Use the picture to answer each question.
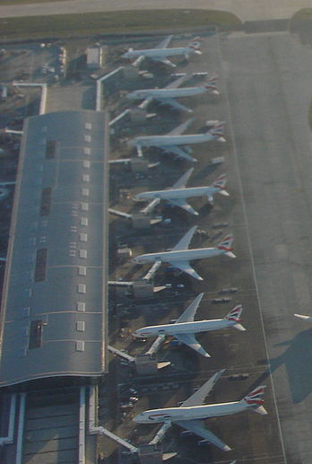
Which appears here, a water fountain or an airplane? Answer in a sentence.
Looking from above, you can make out an airplane.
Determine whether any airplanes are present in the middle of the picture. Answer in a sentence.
Yes, I can see an airplane in the middle of the picture.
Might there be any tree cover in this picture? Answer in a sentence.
No, the scene doesn't show any tree cover.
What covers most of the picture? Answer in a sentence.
The scene is dominated by paved ground.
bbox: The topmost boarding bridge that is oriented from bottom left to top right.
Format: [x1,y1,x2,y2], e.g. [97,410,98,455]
[97,54,154,109]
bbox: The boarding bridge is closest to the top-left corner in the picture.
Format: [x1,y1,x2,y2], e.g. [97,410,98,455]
[10,81,47,110]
